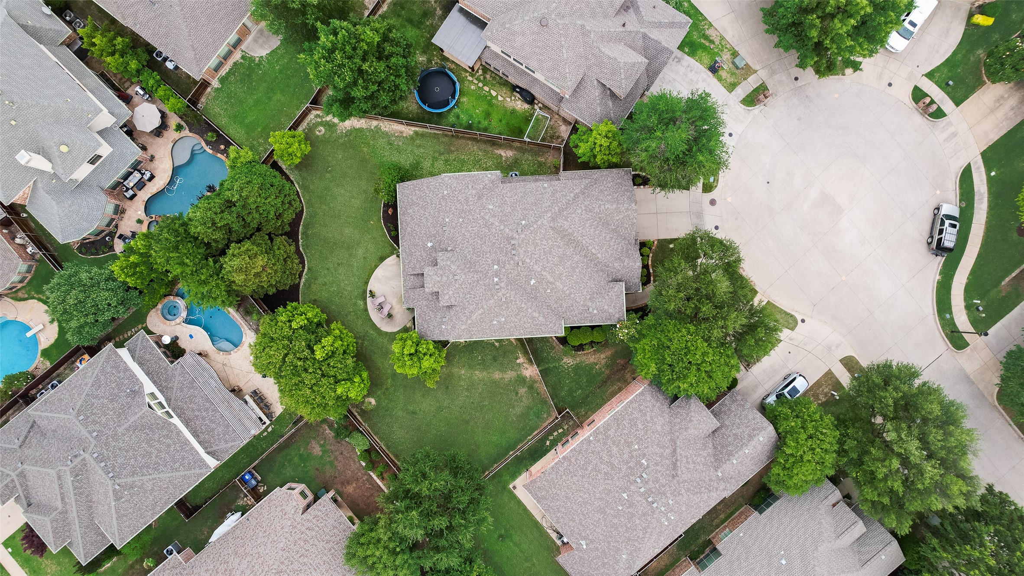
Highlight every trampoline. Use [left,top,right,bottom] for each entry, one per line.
[412,62,460,113]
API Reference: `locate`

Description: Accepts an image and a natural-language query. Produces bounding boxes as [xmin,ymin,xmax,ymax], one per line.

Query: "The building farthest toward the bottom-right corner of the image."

[674,475,904,576]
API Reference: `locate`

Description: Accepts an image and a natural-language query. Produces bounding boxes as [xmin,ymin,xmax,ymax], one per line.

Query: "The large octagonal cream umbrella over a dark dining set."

[133,103,163,132]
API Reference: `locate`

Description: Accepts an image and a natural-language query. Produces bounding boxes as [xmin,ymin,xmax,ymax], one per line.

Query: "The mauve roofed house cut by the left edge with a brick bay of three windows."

[0,230,39,293]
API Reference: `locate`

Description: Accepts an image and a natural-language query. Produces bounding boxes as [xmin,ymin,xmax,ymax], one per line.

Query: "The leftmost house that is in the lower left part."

[0,329,246,565]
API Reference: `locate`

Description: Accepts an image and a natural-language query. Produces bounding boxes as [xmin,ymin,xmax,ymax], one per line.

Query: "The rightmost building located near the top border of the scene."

[462,0,693,131]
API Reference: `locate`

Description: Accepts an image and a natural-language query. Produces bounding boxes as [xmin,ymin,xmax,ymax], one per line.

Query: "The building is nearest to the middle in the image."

[396,168,642,342]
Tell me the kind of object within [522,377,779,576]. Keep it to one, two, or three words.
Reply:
house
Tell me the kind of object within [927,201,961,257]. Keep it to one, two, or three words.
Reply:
car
